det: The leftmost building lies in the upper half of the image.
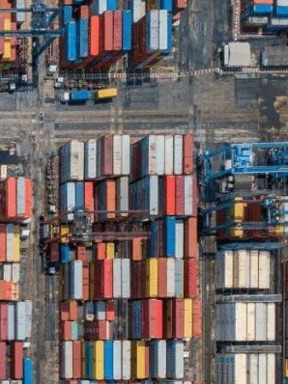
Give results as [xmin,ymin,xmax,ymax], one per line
[224,39,261,67]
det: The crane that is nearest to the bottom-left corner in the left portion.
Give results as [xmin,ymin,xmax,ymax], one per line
[41,208,156,248]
